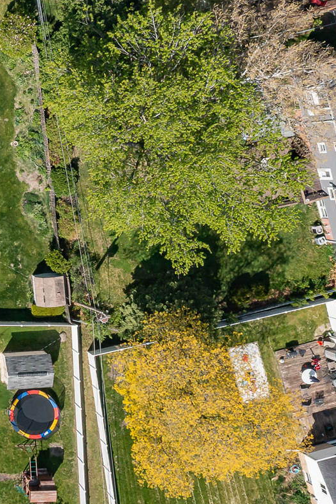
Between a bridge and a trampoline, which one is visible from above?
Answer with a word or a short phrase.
trampoline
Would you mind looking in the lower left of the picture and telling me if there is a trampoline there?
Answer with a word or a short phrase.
Yes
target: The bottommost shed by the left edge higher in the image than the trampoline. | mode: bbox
[2,352,54,391]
